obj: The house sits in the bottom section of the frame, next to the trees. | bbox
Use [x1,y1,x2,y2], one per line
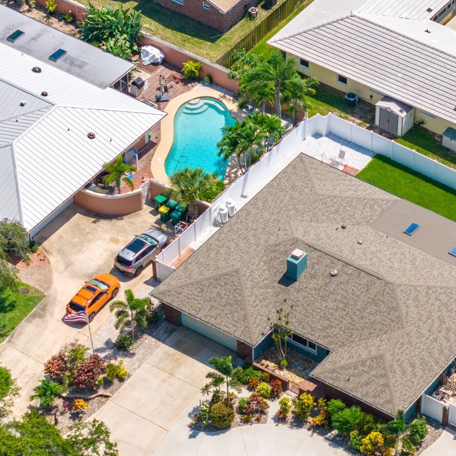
[150,152,456,444]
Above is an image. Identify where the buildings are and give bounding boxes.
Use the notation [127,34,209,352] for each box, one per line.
[150,152,456,444]
[153,0,262,34]
[268,0,456,142]
[0,2,168,248]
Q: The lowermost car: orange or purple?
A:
orange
